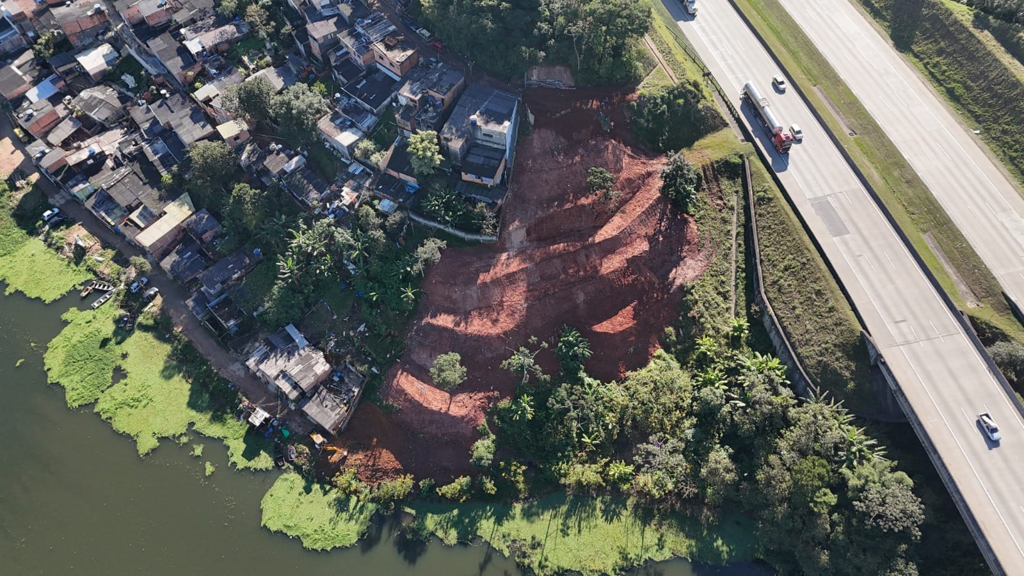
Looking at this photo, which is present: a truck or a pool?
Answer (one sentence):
The image shows a truck.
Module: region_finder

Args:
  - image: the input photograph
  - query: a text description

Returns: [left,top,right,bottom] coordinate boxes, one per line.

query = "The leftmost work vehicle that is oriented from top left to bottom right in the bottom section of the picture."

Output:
[303,425,347,456]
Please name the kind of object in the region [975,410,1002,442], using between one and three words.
truck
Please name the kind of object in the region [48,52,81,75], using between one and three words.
shed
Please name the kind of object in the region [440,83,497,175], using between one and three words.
house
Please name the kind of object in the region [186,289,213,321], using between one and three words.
house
